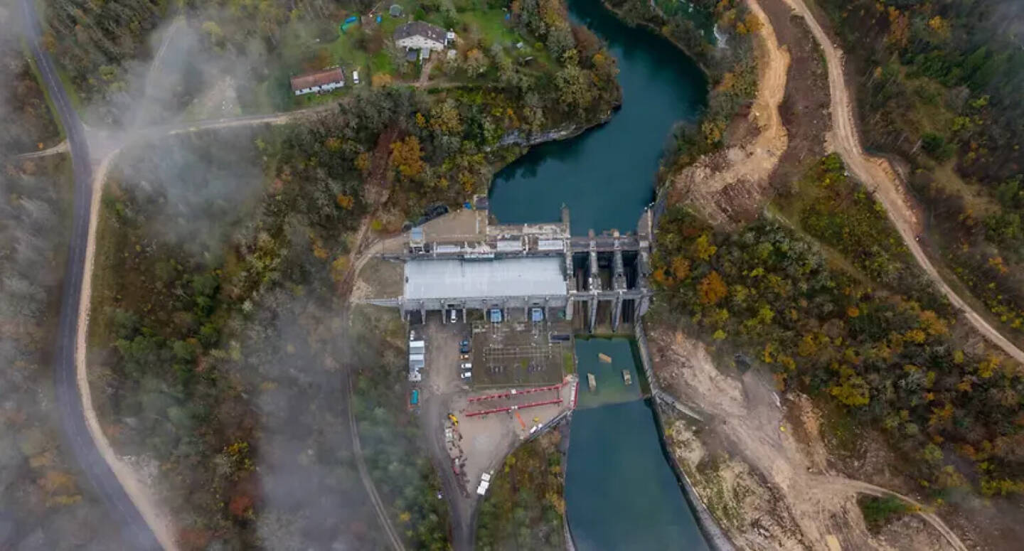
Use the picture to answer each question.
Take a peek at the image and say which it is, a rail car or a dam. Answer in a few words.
dam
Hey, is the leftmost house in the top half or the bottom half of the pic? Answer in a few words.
top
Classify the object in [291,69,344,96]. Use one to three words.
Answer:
house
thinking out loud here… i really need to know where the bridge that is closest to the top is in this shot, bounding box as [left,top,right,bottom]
[573,228,639,251]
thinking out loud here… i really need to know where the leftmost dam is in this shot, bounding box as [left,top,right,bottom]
[403,202,571,257]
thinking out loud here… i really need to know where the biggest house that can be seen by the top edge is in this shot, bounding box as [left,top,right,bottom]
[394,20,447,62]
